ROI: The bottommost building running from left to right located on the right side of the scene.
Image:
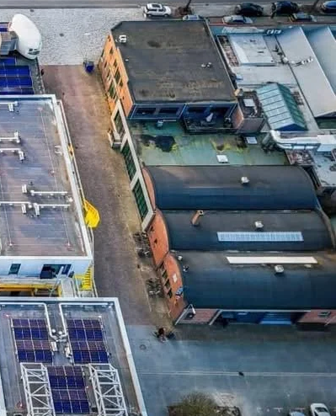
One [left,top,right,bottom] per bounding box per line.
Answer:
[153,249,336,333]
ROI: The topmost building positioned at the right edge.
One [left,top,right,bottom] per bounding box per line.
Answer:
[208,16,336,143]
